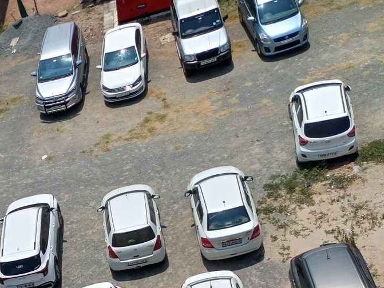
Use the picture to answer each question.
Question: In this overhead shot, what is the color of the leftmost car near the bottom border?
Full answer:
The color of the leftmost car near the bottom border is white.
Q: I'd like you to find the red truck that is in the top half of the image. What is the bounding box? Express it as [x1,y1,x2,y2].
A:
[113,0,167,29]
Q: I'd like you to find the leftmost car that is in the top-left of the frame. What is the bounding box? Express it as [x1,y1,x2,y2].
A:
[28,17,89,113]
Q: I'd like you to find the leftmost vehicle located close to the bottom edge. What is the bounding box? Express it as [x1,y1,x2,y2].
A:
[0,193,61,288]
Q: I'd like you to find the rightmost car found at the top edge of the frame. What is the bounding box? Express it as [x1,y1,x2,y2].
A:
[237,0,312,58]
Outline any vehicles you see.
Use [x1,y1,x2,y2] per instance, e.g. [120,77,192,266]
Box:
[283,77,357,164]
[237,0,312,58]
[93,178,165,271]
[0,193,61,288]
[28,17,89,113]
[179,161,259,260]
[166,0,232,74]
[113,0,167,29]
[282,248,371,288]
[93,24,150,103]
